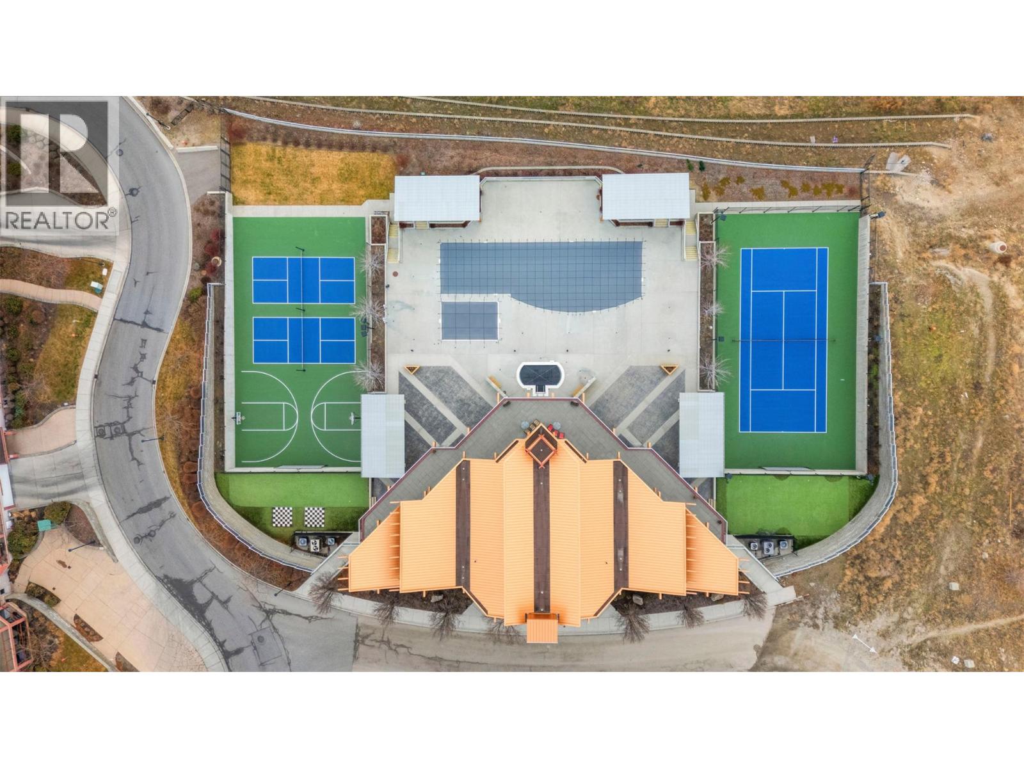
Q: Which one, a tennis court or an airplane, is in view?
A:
tennis court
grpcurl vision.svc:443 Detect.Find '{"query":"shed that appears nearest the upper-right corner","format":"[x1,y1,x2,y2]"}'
[599,173,690,226]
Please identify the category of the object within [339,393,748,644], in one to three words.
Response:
building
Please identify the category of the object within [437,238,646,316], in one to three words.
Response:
swimming pool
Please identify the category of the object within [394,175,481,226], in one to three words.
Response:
shed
